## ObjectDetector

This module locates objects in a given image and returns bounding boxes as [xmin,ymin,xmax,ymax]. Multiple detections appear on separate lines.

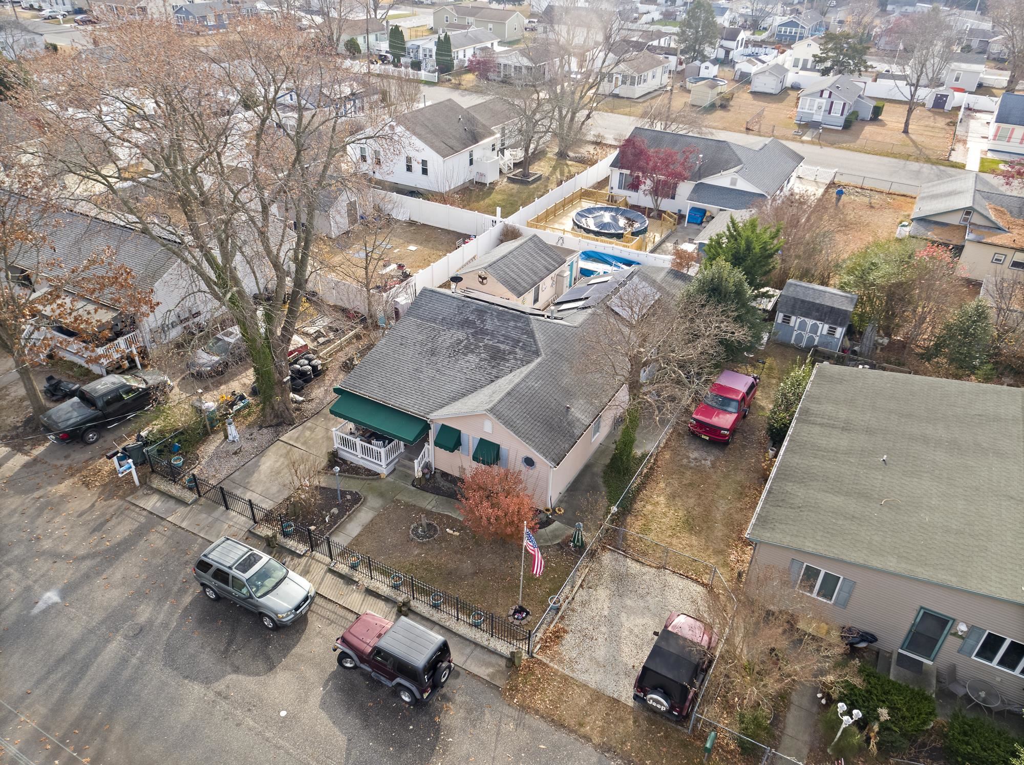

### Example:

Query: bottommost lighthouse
[566,522,585,555]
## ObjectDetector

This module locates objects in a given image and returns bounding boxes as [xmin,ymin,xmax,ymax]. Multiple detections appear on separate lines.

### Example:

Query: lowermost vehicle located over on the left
[327,603,461,708]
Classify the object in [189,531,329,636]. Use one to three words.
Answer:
car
